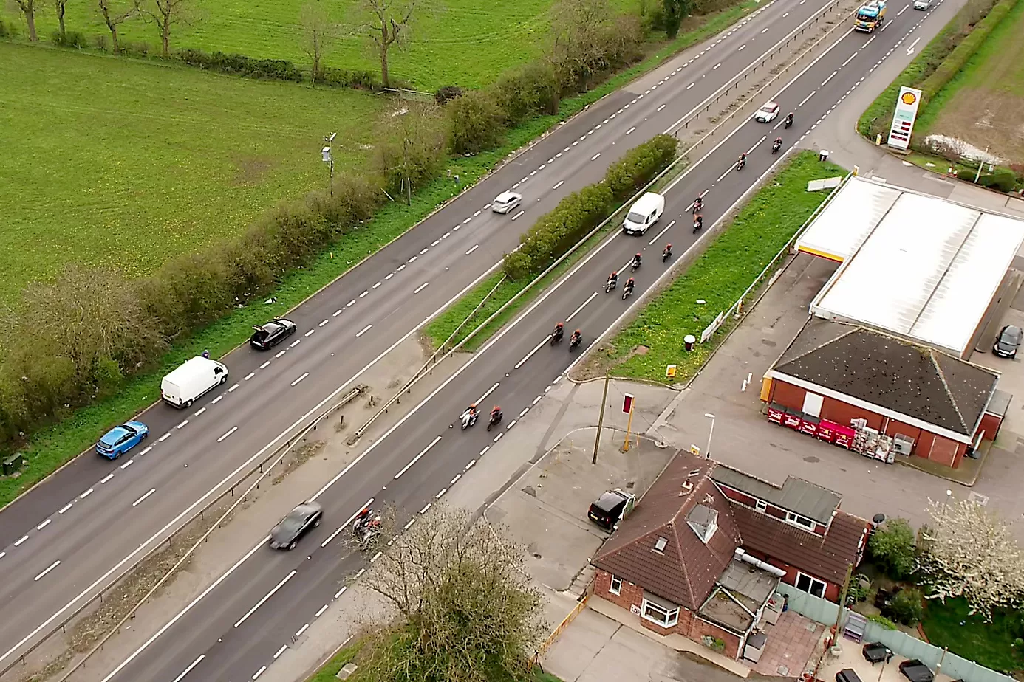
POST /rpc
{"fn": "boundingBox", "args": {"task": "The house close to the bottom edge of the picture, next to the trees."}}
[585,449,885,662]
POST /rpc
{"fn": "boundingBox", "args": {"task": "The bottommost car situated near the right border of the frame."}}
[992,319,1023,351]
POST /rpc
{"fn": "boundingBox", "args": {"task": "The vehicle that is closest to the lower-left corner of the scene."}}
[92,420,149,459]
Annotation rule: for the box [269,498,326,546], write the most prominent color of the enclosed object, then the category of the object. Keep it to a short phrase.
gray car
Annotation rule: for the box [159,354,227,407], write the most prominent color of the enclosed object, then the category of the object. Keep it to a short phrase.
white van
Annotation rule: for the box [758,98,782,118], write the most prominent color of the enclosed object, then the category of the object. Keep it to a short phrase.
white car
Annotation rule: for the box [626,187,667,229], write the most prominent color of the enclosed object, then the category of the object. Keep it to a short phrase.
white van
